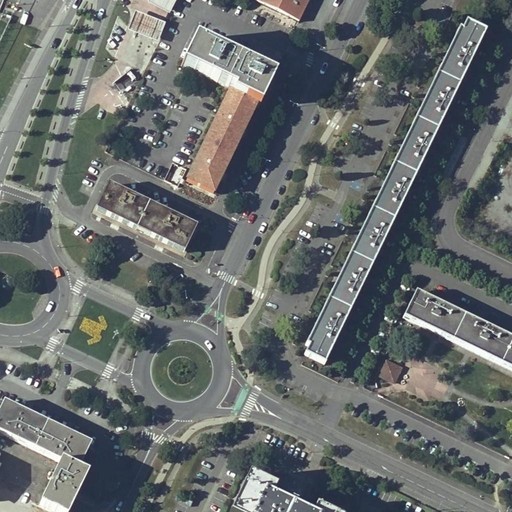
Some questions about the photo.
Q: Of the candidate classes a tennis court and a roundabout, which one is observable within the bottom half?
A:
roundabout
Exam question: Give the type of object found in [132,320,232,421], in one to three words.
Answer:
roundabout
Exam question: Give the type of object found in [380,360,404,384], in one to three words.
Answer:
building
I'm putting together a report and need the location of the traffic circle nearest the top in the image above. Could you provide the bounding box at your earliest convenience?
[0,234,64,346]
